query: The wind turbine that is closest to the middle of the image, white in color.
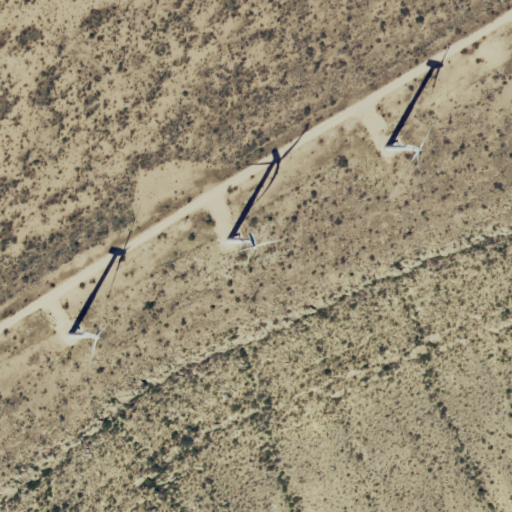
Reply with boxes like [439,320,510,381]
[222,233,286,260]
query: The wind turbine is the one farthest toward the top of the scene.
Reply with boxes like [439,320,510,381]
[382,118,432,179]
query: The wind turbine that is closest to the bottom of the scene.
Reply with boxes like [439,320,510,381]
[64,307,104,370]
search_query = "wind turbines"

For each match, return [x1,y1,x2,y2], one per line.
[64,307,104,370]
[222,233,286,260]
[382,118,432,179]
